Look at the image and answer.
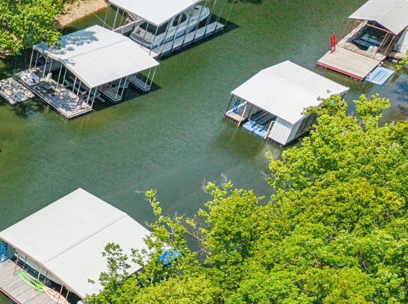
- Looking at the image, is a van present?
No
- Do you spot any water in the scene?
Yes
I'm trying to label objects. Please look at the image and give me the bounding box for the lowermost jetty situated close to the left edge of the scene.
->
[0,188,163,304]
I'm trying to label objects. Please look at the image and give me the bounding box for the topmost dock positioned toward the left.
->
[67,0,226,61]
